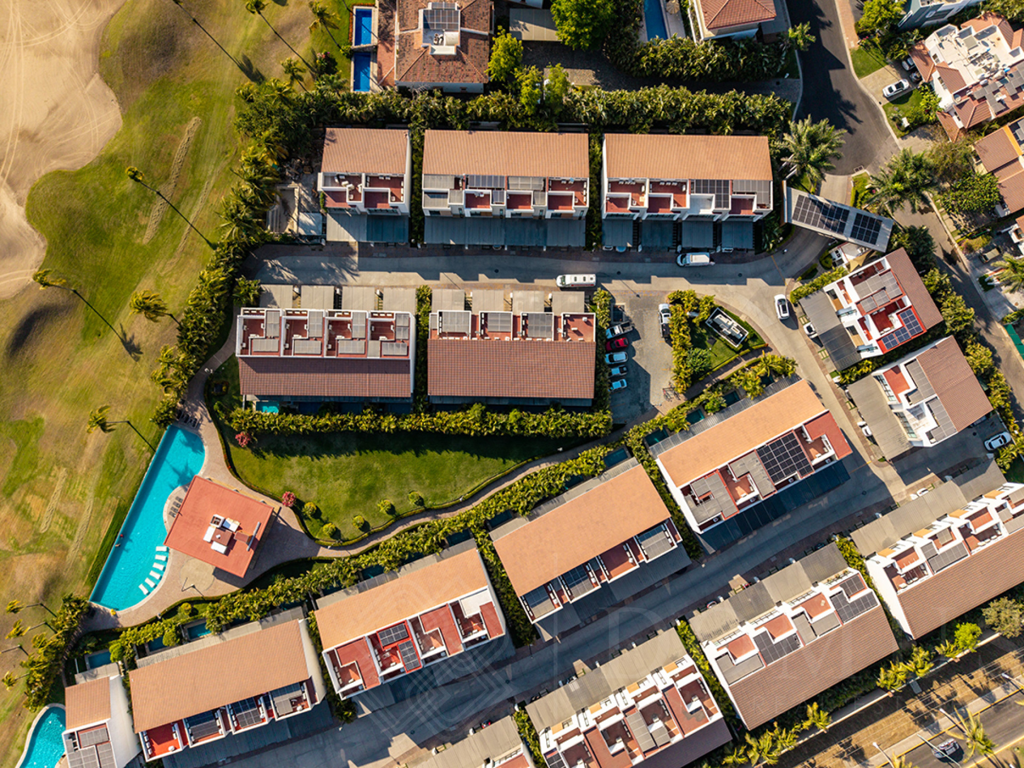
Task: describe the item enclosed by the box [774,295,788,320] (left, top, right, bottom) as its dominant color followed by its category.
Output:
white car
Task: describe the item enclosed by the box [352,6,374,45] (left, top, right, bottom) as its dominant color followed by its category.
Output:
blue swimming pool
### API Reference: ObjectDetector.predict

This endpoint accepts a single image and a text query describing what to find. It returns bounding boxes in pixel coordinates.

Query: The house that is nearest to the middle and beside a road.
[427,290,597,404]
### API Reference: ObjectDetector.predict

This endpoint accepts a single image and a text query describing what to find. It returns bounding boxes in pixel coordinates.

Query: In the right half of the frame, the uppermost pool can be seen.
[643,0,670,43]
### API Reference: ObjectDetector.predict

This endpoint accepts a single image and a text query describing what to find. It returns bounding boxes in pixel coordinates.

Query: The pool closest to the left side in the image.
[13,703,66,768]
